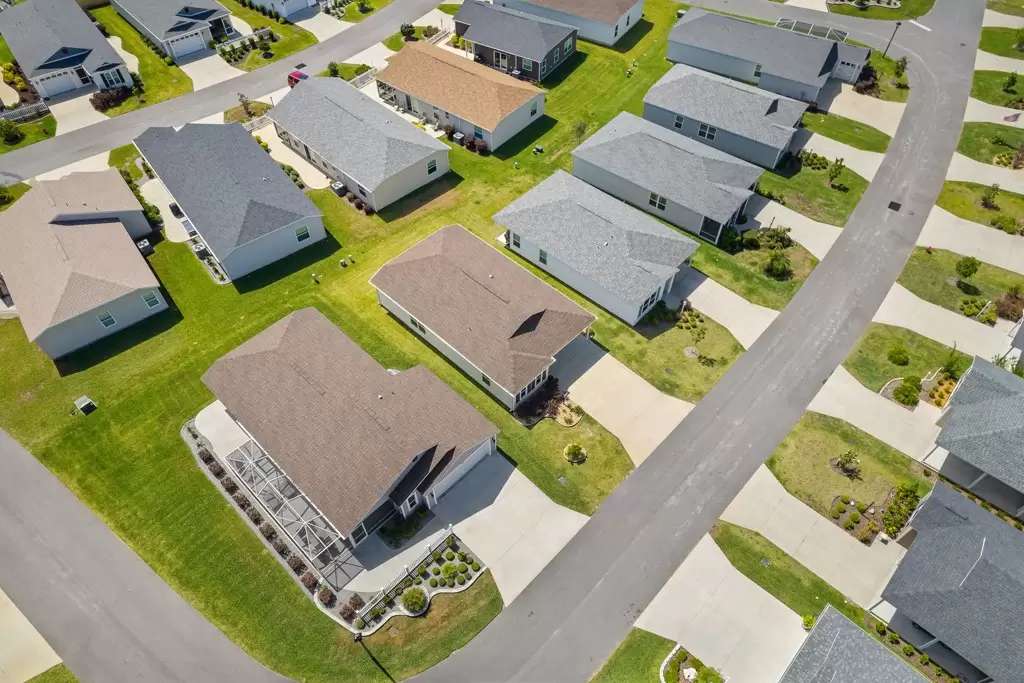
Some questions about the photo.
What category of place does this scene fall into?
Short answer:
residential area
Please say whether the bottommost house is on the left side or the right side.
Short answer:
right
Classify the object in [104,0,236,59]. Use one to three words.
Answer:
house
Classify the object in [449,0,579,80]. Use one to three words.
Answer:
house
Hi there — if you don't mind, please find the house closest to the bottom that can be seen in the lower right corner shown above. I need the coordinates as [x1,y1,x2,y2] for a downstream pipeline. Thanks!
[773,604,927,683]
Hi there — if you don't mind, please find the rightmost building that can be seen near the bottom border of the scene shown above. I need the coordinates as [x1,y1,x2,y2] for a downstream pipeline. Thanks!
[869,487,1024,683]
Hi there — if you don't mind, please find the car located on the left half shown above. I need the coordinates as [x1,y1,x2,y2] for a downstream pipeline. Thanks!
[286,70,311,88]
